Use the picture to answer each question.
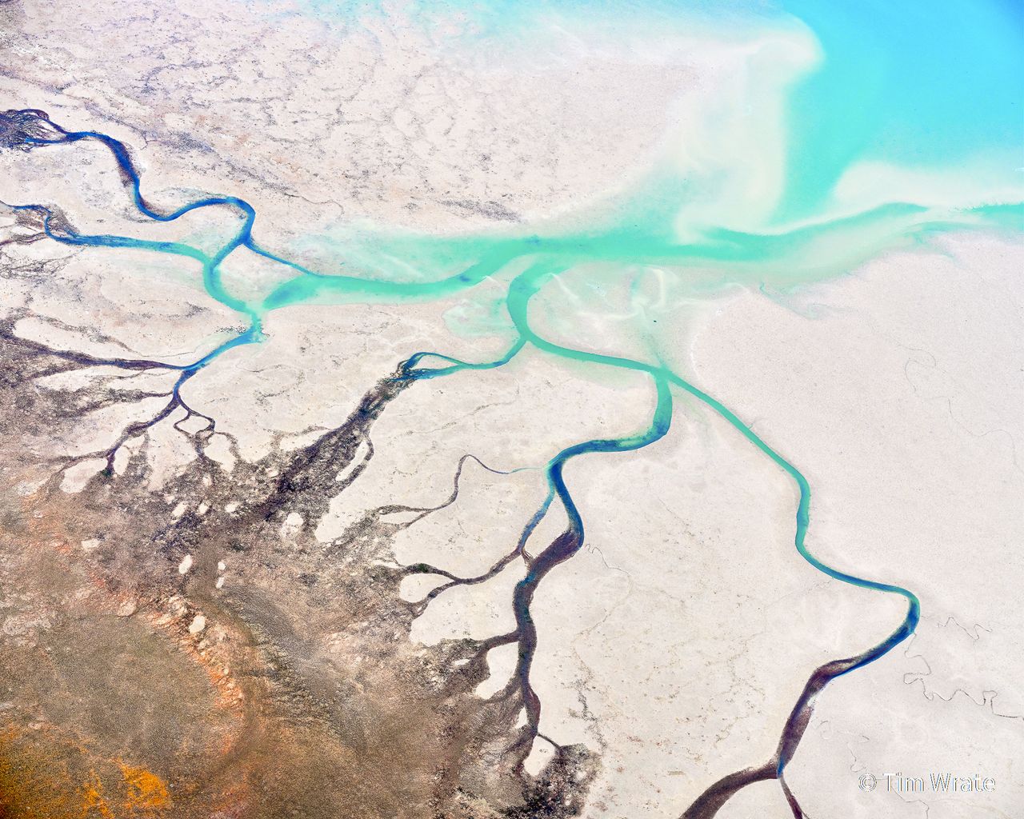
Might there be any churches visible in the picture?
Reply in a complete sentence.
No, no church is visible in the scene.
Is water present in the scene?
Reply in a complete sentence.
Yes, water can be seen from above here.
